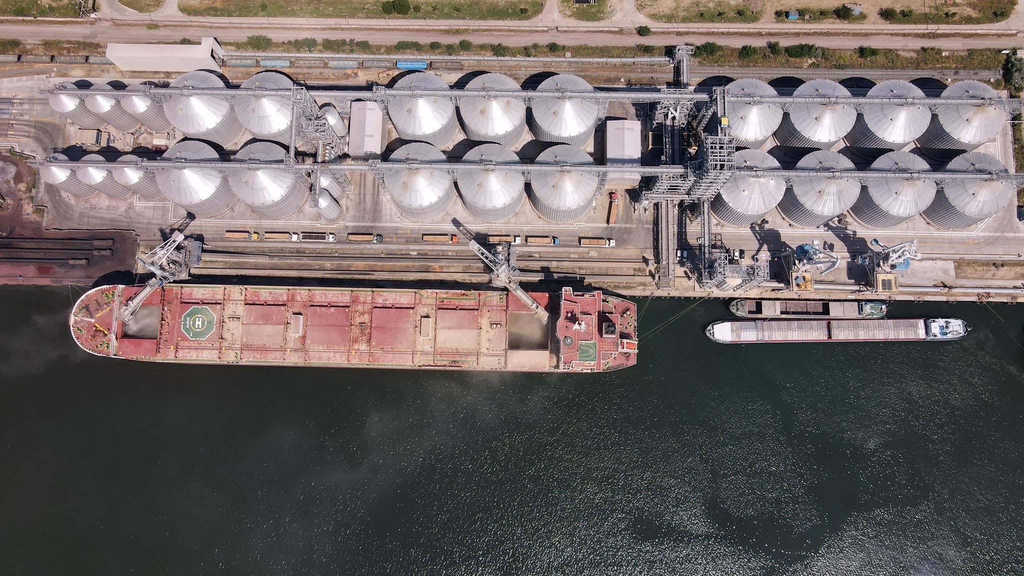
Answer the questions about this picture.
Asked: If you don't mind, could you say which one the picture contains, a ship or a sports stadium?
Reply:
ship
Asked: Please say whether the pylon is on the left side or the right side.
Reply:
left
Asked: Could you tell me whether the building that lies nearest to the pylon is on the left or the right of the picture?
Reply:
left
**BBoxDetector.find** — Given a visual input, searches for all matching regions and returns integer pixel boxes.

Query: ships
[728,299,891,319]
[704,317,971,344]
[66,284,639,373]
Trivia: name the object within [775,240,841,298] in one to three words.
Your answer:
crane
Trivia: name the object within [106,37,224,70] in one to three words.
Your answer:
building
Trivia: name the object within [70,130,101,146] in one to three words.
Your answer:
shed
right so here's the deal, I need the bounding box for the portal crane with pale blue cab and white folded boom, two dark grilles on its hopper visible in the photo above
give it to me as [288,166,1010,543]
[854,239,921,299]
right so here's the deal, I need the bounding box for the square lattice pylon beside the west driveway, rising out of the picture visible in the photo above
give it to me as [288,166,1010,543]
[67,0,99,21]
